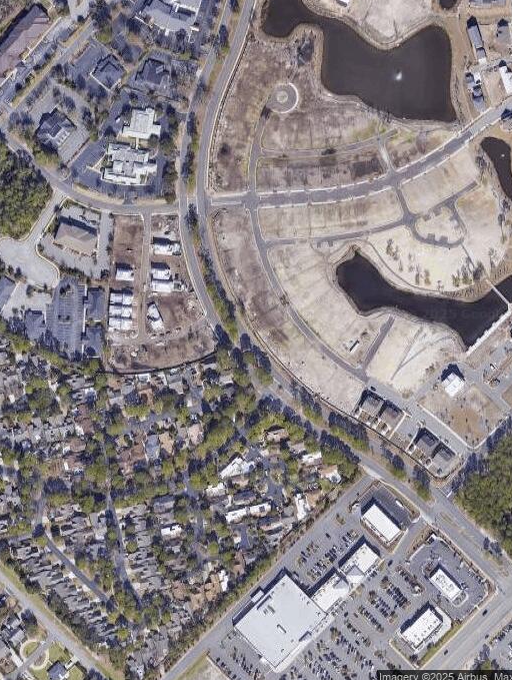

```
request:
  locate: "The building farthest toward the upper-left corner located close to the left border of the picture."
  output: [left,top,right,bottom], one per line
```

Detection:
[0,5,50,84]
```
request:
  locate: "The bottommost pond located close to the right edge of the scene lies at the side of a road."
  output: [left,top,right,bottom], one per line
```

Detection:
[337,251,512,350]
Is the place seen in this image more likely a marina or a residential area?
residential area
